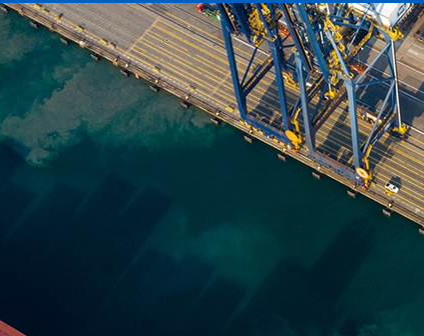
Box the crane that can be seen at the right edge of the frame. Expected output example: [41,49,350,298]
[273,0,411,185]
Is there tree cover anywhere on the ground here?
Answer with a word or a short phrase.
No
